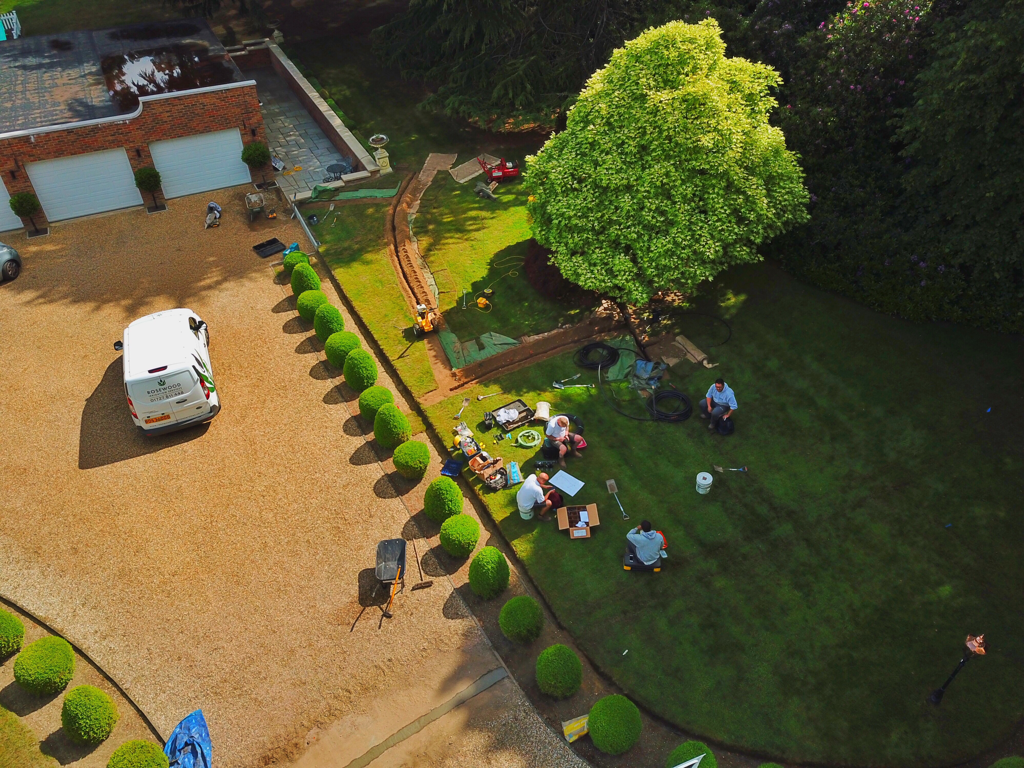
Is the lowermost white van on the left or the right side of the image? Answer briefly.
left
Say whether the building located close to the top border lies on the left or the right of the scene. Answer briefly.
left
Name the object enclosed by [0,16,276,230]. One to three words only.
building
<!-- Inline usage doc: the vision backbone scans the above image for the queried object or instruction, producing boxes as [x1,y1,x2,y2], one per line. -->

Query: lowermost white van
[110,302,224,437]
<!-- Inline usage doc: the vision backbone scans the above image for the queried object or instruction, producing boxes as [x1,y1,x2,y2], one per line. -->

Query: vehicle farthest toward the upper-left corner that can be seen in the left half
[0,230,27,280]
